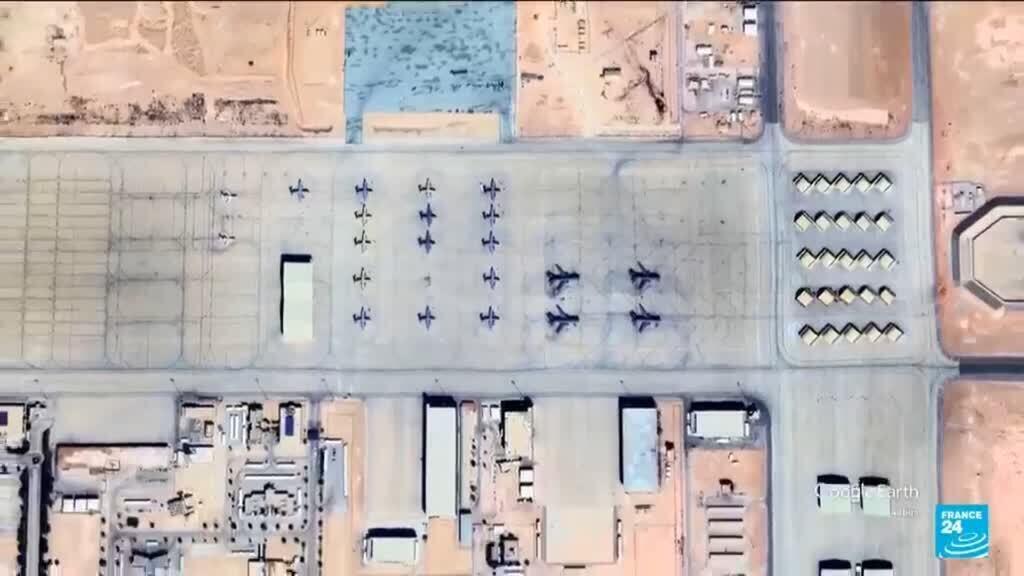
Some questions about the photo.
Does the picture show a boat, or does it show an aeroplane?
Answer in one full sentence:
This aerial view contains an aeroplane.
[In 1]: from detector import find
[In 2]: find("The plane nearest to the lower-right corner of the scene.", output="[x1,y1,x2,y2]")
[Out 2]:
[631,307,662,334]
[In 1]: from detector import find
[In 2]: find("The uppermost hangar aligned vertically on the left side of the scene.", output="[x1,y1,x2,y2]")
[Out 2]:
[283,261,314,340]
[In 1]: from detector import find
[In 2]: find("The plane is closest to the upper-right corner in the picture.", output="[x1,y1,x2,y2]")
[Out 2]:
[631,264,662,291]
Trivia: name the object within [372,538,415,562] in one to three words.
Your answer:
hangar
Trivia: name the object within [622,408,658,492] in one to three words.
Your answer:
hangar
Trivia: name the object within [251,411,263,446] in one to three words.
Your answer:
building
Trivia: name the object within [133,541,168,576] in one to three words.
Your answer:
building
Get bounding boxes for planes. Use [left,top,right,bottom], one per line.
[484,206,500,229]
[420,309,436,332]
[631,307,662,334]
[631,264,662,291]
[221,188,235,205]
[549,307,579,334]
[292,179,308,202]
[483,309,499,332]
[549,266,579,293]
[420,178,437,201]
[356,179,373,202]
[218,231,233,248]
[421,206,437,229]
[484,233,500,256]
[355,205,372,228]
[355,308,371,331]
[420,232,436,255]
[355,232,372,255]
[485,180,501,203]
[484,269,501,292]
[354,269,371,292]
